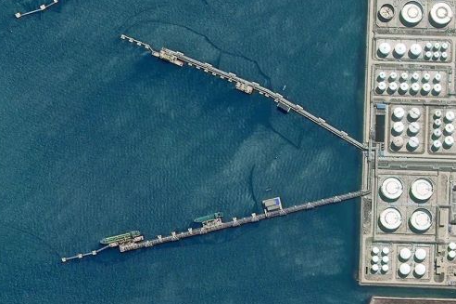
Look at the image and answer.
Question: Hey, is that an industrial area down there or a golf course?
industrial area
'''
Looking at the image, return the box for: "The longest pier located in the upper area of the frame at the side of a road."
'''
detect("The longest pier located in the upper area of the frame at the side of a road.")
[163,48,369,150]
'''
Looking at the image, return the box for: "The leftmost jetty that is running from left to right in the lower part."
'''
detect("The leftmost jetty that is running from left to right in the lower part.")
[120,190,370,252]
